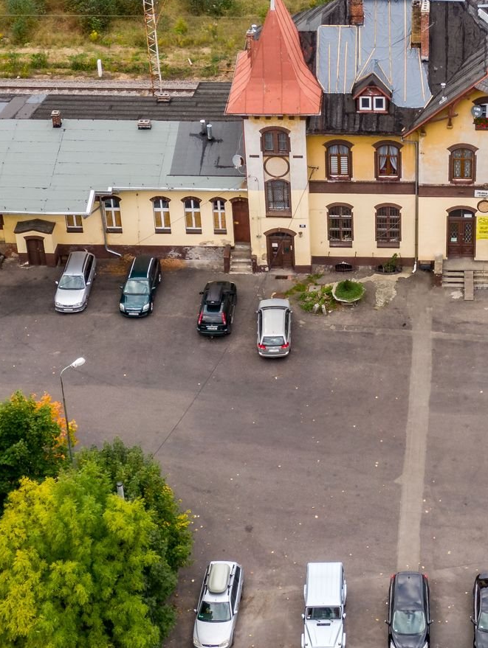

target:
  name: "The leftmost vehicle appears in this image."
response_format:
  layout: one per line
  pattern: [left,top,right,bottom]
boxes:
[55,250,102,311]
